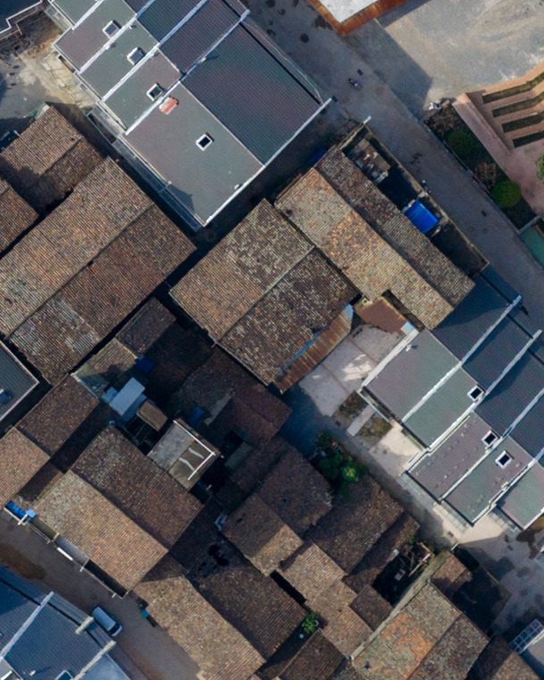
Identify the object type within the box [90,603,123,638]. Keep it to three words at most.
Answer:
van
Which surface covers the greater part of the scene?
buildings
